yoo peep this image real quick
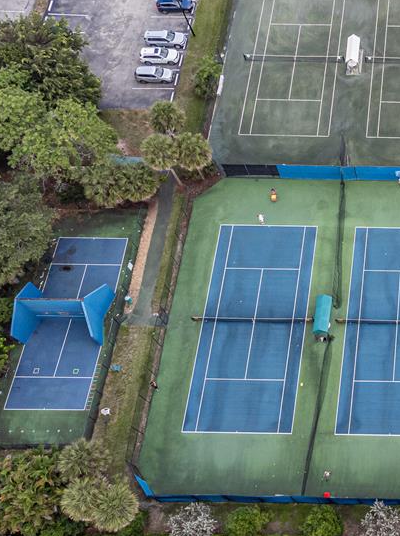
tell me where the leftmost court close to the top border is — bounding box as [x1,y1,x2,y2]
[239,0,345,136]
